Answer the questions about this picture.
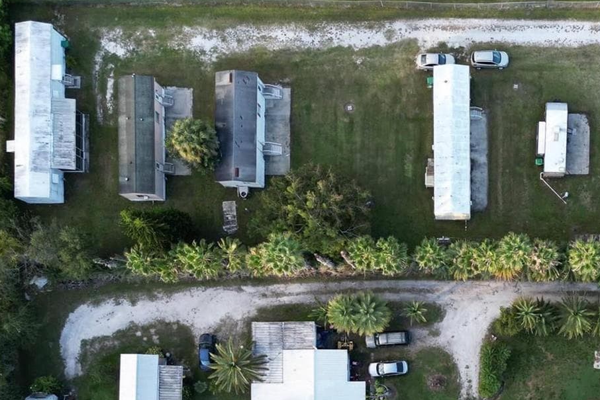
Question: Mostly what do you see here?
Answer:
grass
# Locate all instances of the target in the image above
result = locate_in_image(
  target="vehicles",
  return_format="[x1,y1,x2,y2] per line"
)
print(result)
[470,49,508,70]
[415,52,454,71]
[368,360,409,377]
[367,331,410,349]
[197,331,215,370]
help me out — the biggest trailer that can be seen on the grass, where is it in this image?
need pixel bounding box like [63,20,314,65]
[536,104,567,189]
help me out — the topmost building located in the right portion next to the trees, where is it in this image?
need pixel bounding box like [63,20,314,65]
[426,61,470,224]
